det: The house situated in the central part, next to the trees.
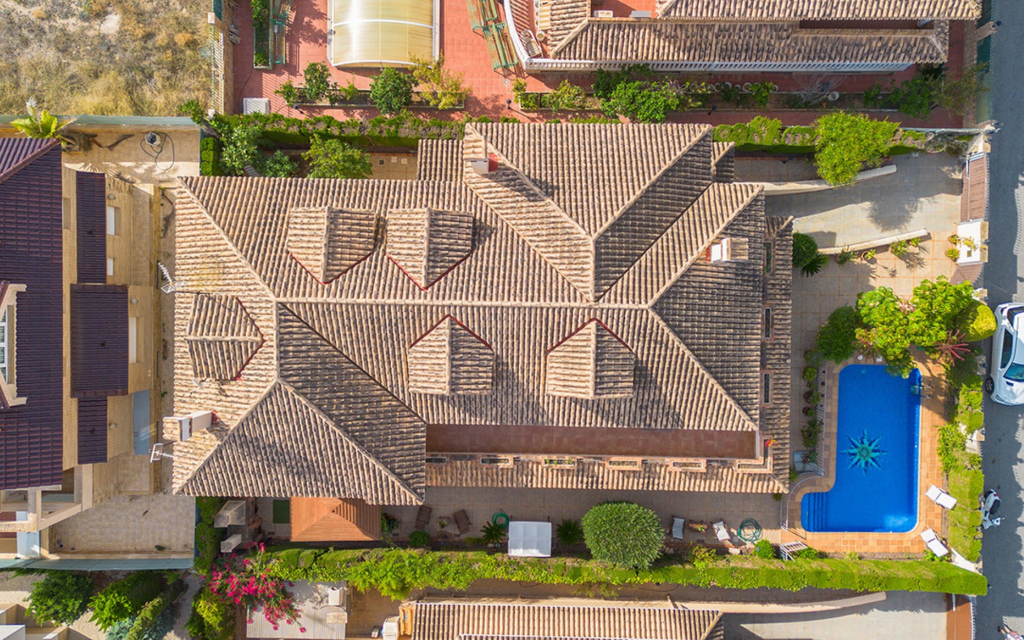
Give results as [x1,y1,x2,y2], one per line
[162,121,795,507]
